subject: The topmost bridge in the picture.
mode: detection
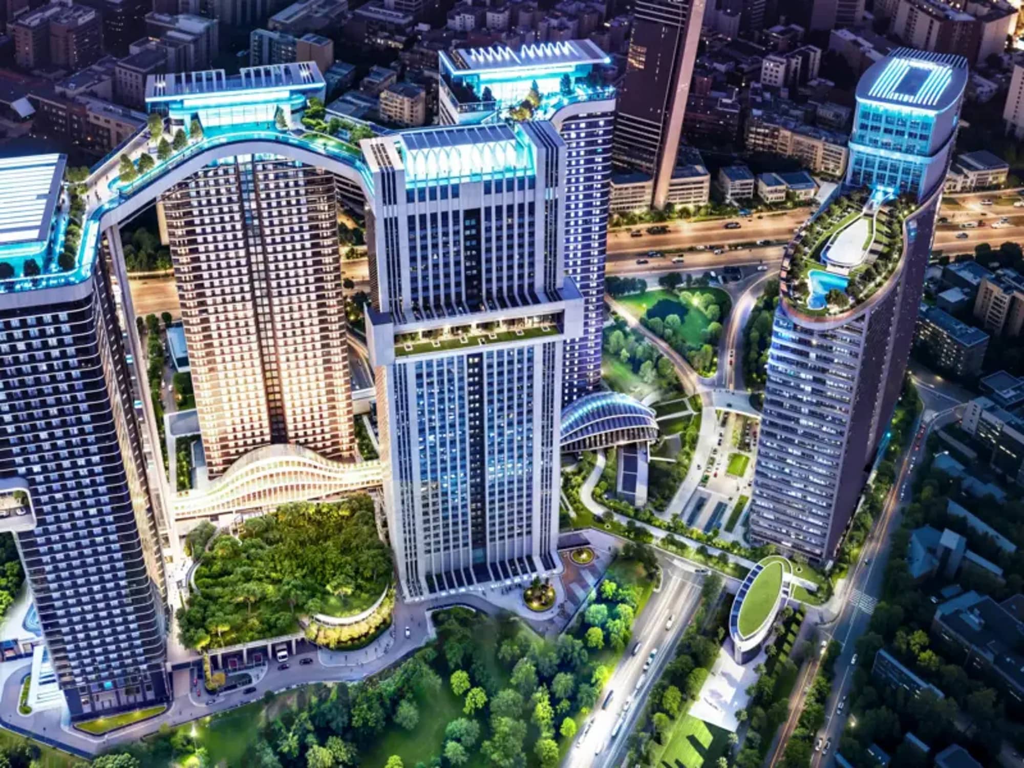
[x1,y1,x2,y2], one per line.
[80,115,372,249]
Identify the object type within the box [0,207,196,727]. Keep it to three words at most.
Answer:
building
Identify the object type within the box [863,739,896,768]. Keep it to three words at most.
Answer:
building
